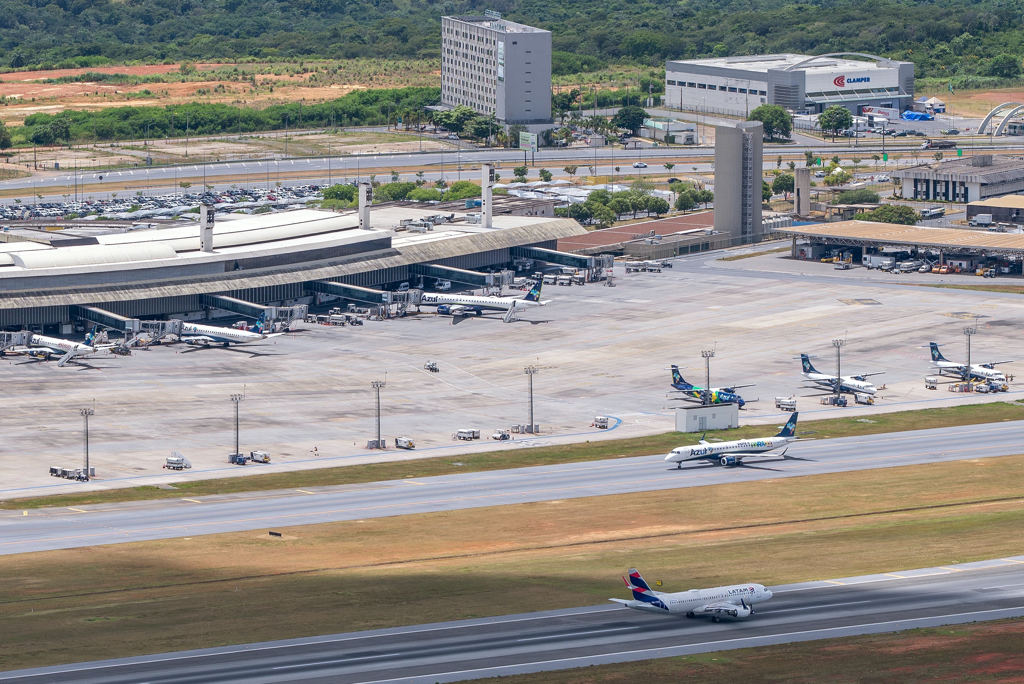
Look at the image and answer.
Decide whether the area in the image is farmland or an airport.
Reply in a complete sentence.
This image shows an airport.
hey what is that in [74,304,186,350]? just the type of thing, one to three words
jet bridge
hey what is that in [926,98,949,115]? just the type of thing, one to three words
tent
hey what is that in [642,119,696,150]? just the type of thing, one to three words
building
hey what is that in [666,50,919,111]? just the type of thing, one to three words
building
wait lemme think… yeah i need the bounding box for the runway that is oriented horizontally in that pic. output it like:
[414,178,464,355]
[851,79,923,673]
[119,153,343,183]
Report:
[0,564,1024,684]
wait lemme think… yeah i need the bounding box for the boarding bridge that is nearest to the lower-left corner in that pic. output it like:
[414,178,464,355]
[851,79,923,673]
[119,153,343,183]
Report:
[0,330,29,364]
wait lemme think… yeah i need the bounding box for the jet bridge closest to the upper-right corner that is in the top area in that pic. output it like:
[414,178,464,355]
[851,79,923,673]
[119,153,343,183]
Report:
[518,246,616,286]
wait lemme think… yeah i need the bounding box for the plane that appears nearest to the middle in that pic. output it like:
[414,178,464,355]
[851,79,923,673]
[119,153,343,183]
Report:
[414,276,550,315]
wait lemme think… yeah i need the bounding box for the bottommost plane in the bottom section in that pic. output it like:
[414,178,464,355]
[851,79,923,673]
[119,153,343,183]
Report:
[608,566,775,621]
